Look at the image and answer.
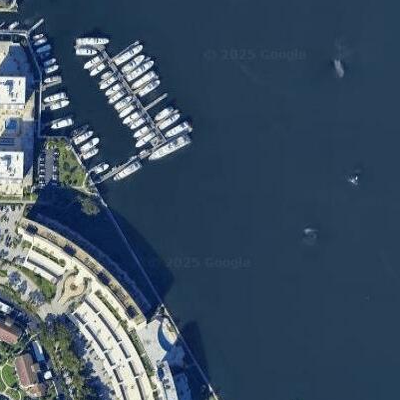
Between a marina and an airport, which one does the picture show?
marina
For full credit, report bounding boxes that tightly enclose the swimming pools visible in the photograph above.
[162,318,177,343]
[4,120,17,130]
